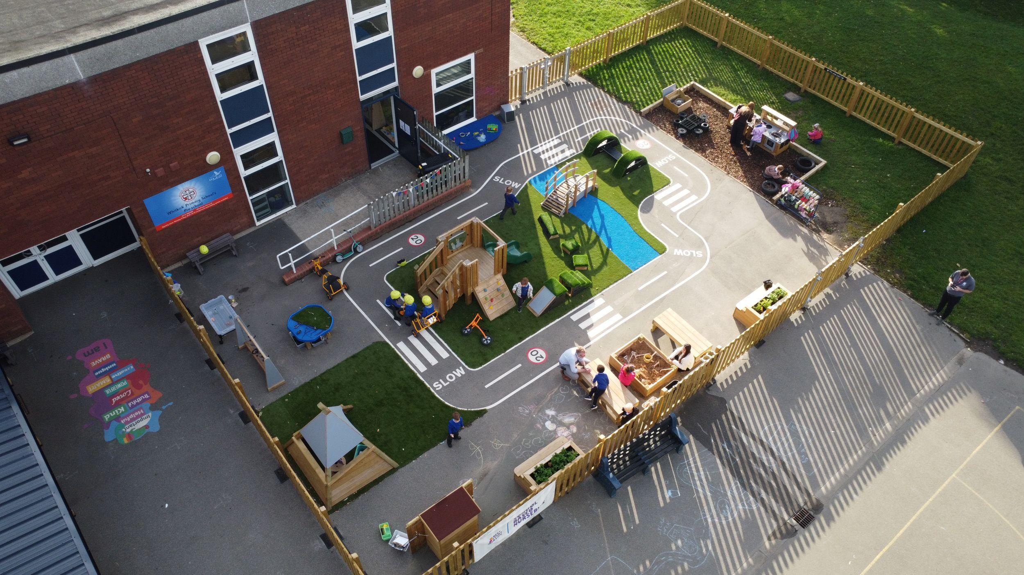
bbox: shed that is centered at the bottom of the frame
[397,477,480,560]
